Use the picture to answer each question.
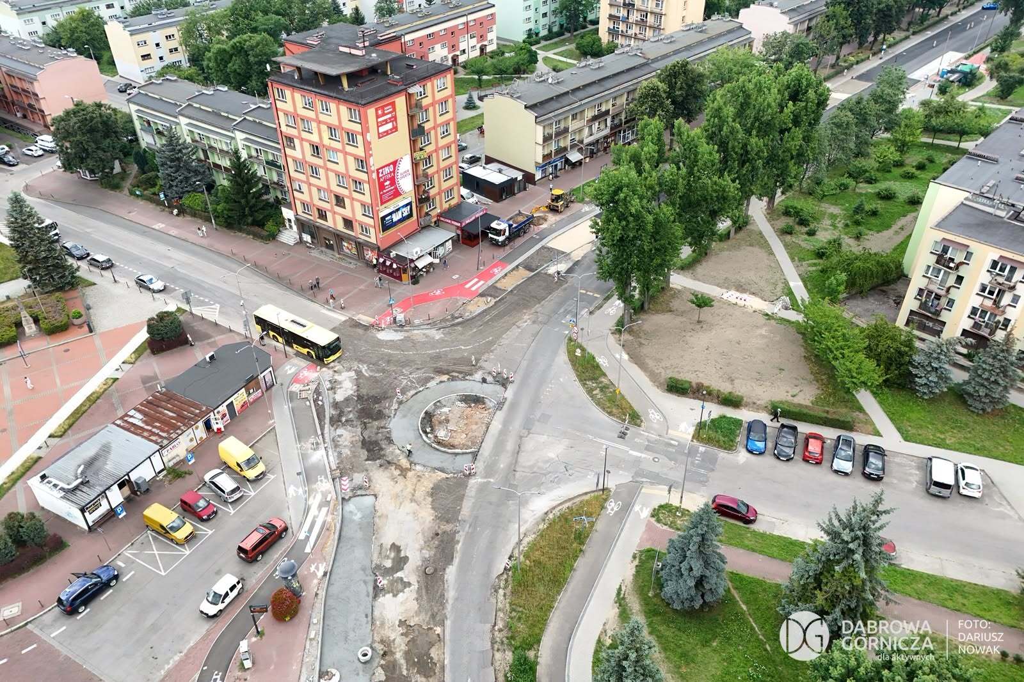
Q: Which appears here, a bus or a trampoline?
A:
bus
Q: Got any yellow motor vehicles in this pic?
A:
Yes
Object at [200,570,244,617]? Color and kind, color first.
white car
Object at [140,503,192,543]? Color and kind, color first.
yellow van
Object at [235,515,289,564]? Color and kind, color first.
red car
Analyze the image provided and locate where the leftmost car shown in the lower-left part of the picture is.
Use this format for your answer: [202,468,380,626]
[55,562,120,615]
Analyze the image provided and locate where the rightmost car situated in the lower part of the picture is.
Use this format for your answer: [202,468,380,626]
[960,462,987,499]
